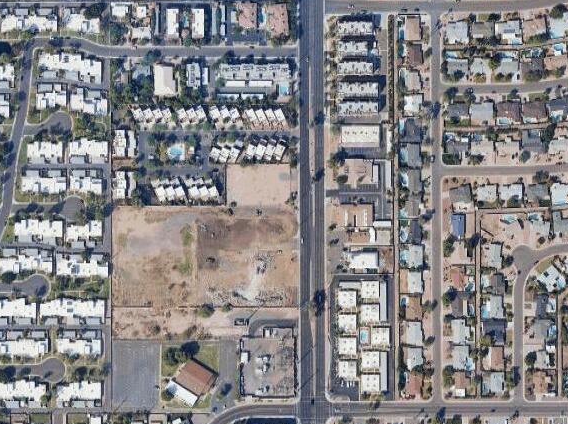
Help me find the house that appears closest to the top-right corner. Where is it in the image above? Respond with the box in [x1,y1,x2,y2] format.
[549,13,568,37]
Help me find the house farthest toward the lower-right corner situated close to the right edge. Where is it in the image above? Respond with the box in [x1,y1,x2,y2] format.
[534,372,552,395]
